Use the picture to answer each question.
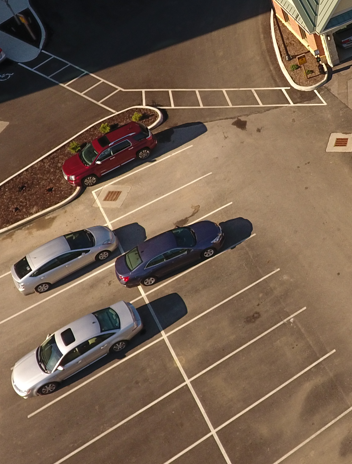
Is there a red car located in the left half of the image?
Yes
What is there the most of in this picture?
paved ground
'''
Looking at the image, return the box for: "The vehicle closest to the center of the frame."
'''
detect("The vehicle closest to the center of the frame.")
[113,218,225,289]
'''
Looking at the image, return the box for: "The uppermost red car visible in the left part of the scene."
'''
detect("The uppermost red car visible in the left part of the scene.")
[56,118,158,188]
